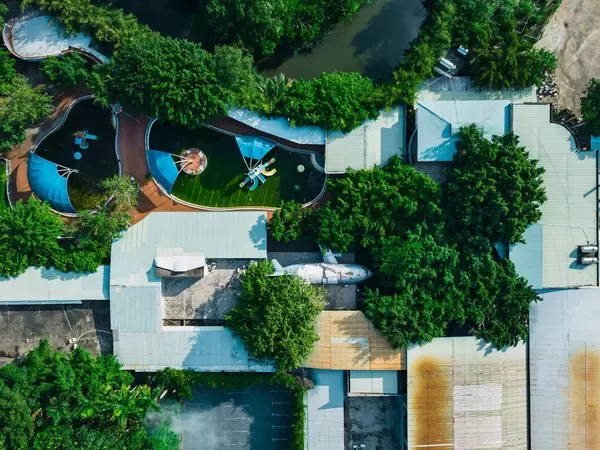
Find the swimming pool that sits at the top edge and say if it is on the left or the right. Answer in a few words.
left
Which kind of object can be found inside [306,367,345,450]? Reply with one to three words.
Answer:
shed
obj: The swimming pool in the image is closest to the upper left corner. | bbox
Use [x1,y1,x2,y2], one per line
[1,13,112,65]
